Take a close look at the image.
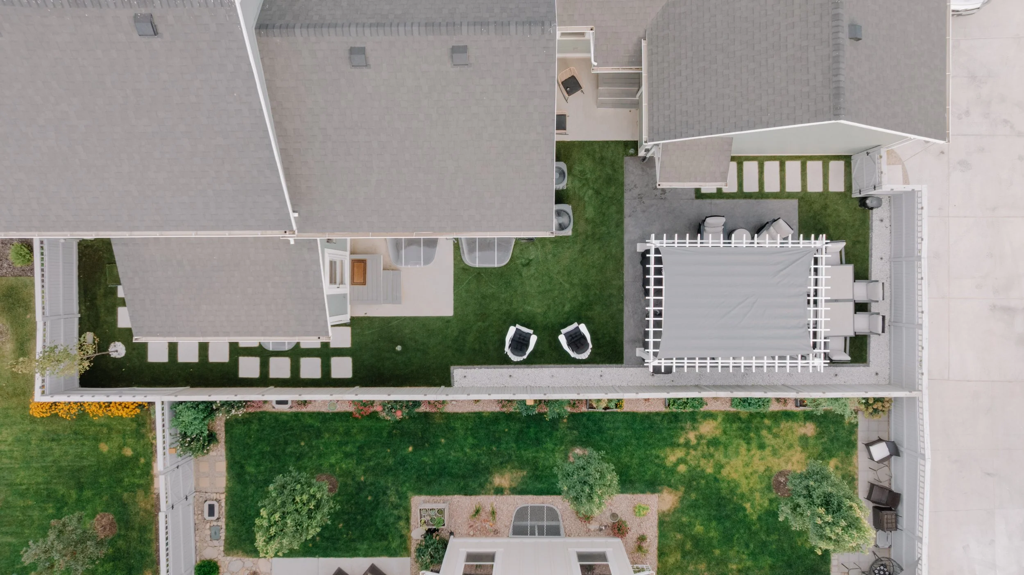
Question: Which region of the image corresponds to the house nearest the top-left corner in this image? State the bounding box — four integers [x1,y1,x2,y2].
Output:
[0,0,678,341]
